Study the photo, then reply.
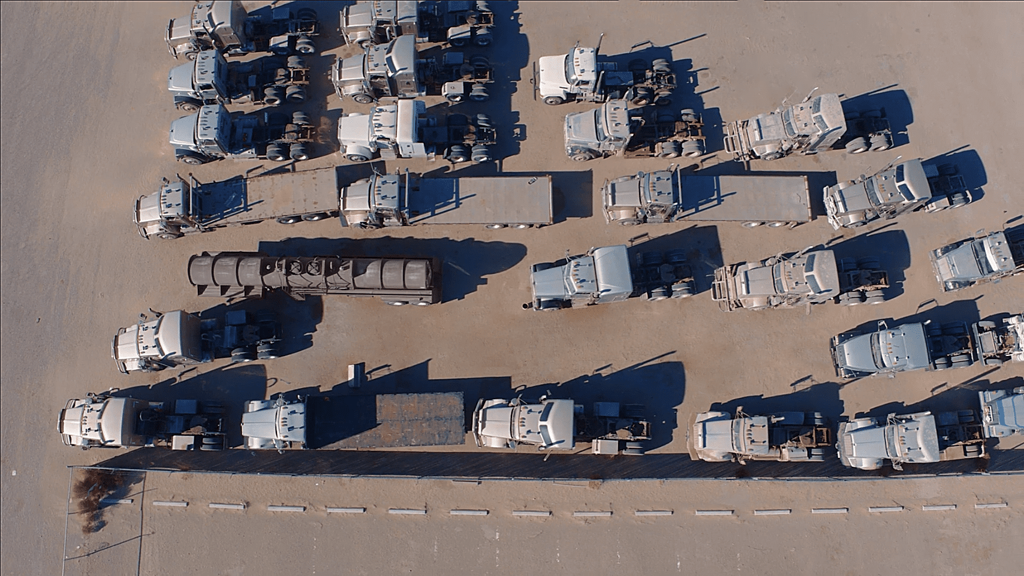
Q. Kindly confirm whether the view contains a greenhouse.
No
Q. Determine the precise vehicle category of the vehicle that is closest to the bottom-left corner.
truck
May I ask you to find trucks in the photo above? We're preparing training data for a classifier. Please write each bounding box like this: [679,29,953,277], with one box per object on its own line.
[54,388,231,455]
[833,408,995,475]
[561,92,708,160]
[163,0,323,62]
[527,245,698,311]
[132,165,341,240]
[239,390,465,456]
[928,228,1024,294]
[339,0,498,52]
[824,321,983,385]
[338,163,555,230]
[732,86,895,162]
[170,96,319,163]
[971,379,1024,439]
[331,30,497,104]
[817,154,980,231]
[170,43,313,112]
[337,96,499,163]
[471,390,654,457]
[530,27,679,108]
[684,403,834,470]
[600,160,814,227]
[718,246,892,312]
[109,309,286,373]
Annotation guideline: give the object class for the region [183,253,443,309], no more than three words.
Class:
trailer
